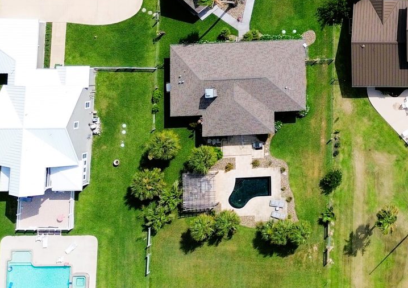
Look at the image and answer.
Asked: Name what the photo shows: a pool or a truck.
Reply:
pool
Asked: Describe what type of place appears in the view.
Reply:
residential area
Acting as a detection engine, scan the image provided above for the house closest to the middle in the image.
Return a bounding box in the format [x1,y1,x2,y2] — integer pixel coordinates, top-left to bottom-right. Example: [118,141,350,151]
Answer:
[170,39,306,137]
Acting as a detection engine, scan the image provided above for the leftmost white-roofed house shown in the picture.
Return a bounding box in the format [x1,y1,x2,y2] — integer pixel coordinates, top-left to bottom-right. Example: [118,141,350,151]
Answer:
[0,19,96,196]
